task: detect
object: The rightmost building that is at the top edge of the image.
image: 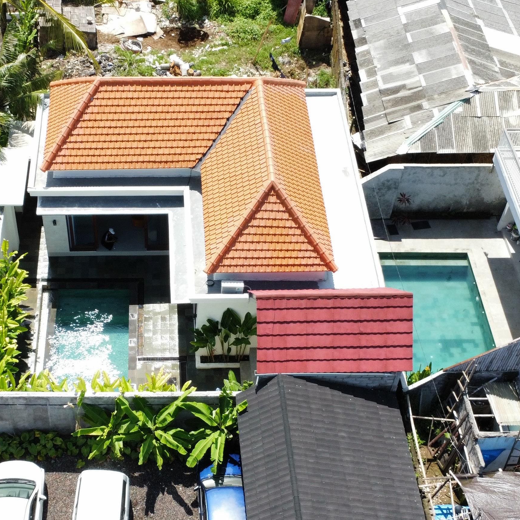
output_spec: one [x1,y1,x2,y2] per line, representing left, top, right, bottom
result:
[344,0,520,185]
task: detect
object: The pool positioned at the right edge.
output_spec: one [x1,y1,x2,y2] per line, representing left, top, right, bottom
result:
[371,242,519,406]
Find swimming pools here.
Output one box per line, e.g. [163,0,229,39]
[38,284,144,392]
[371,242,519,406]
